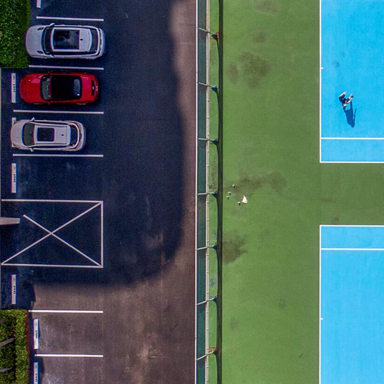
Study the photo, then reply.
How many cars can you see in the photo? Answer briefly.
3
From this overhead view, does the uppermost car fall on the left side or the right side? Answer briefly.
left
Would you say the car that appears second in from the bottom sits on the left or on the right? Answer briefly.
left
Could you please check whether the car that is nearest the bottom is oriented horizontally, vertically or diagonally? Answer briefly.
horizontally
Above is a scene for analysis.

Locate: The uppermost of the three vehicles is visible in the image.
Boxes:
[26,20,106,61]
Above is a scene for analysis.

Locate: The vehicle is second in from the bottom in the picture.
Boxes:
[20,68,98,108]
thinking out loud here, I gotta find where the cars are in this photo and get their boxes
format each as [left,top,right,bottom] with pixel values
[20,68,98,108]
[26,20,106,61]
[11,116,86,155]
